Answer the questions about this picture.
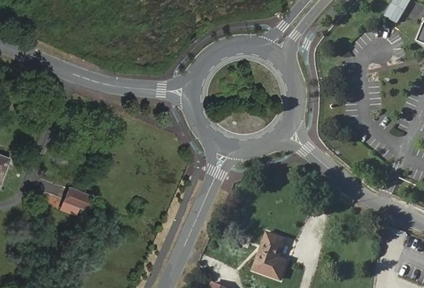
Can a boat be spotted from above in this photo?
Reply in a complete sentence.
No, I can't see a single boat in this photo.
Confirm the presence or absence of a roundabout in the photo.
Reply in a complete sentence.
Yes, there is a roundabout in the image.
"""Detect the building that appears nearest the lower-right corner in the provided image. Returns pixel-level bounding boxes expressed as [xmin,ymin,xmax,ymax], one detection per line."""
[252,230,296,284]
